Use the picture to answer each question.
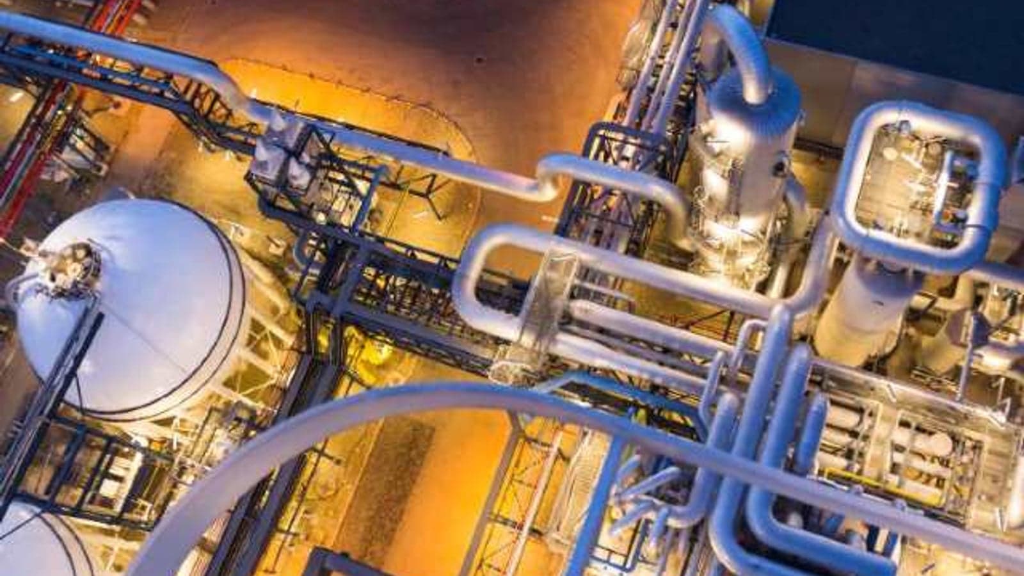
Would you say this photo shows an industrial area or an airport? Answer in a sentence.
The picture captures an industrial area.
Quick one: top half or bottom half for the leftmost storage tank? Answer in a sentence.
Seen from above, the leftmost storage tank lies in the bottom half of the view.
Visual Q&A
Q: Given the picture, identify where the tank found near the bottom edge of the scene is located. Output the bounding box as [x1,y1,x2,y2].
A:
[0,491,149,576]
